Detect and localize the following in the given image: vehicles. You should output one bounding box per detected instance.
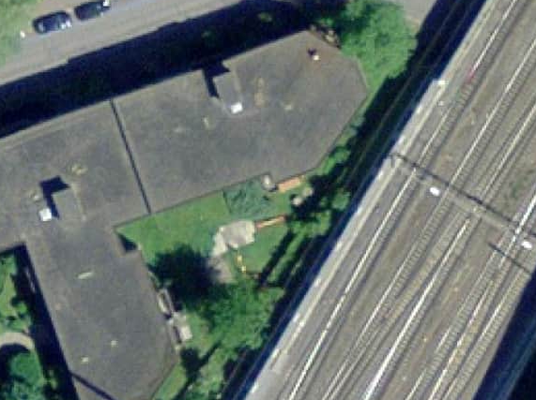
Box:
[33,9,73,35]
[75,0,112,21]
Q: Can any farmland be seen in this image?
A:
No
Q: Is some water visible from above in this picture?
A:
No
